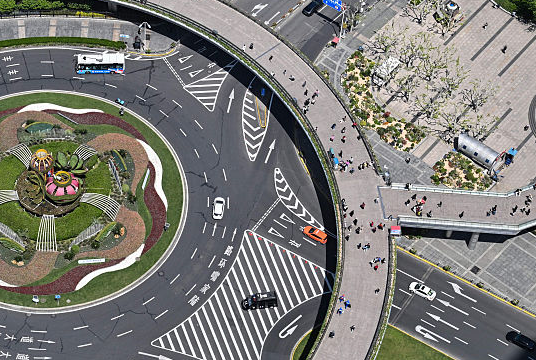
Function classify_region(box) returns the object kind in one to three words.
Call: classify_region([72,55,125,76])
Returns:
bus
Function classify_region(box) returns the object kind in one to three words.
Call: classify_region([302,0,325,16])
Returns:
car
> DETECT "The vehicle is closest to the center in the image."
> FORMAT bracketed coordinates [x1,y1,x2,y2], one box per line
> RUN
[213,196,225,219]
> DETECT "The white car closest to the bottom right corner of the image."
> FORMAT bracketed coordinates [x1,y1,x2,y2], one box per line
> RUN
[408,281,437,301]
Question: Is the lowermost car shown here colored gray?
No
